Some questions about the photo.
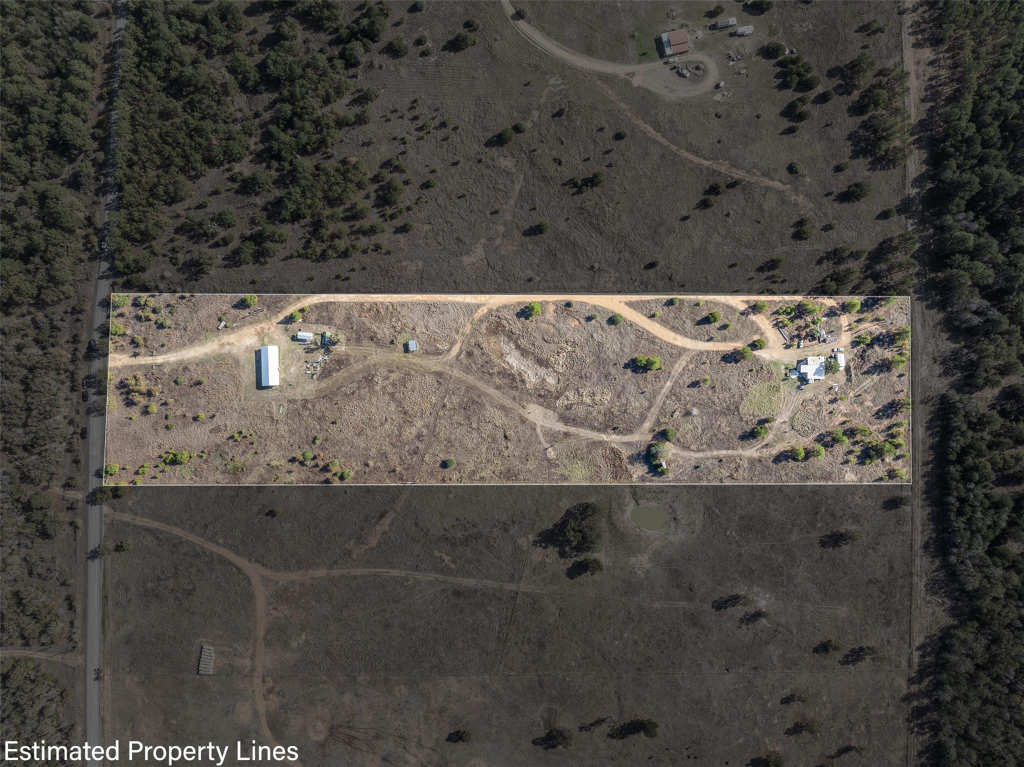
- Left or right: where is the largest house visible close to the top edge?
right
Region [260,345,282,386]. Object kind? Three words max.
barn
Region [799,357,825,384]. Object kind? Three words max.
house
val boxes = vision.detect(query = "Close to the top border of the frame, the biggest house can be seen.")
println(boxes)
[660,29,689,58]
